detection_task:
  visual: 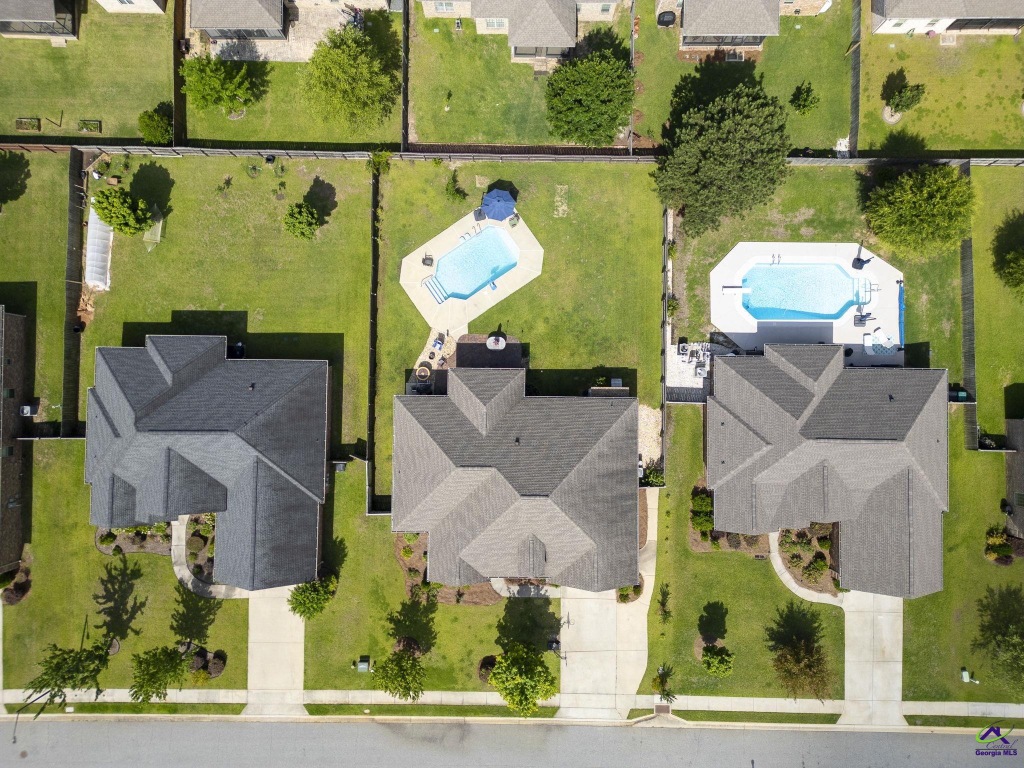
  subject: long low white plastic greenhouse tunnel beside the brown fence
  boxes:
[83,196,113,295]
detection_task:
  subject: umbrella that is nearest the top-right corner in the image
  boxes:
[852,253,883,270]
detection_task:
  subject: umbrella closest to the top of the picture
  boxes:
[473,189,515,222]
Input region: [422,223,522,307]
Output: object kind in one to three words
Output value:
swimming pool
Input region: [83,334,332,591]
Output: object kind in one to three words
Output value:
house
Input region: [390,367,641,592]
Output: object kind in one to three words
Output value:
house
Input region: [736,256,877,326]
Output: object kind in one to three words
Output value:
swimming pool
